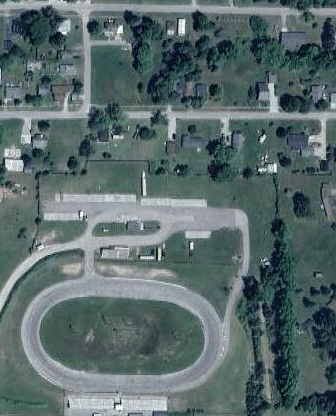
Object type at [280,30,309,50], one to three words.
house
